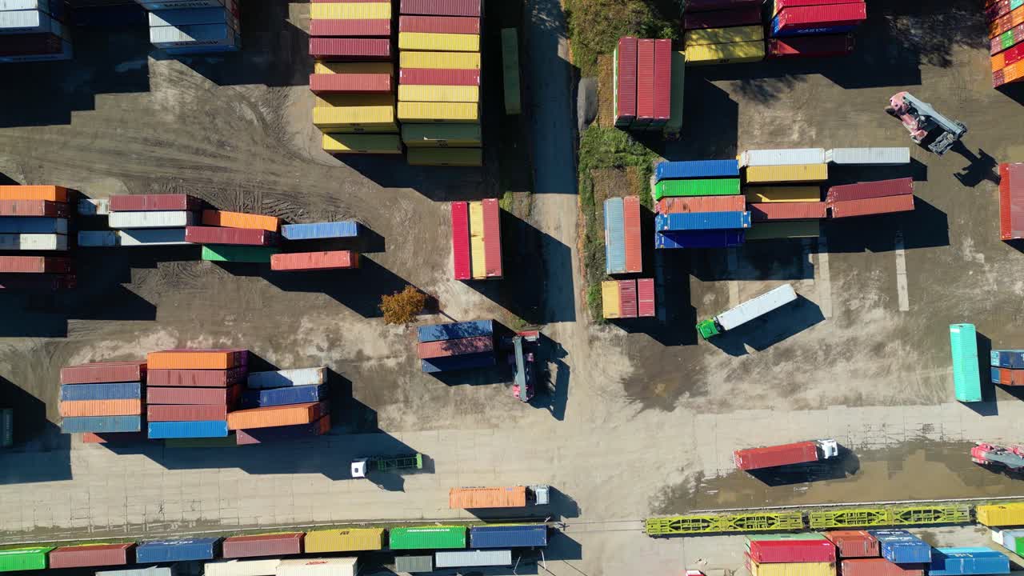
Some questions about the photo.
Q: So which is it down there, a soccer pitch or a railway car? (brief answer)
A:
railway car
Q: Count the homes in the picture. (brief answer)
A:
none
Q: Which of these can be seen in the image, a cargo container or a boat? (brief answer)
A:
cargo container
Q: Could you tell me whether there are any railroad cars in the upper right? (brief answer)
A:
No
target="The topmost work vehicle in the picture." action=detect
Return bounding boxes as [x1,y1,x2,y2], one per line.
[881,94,973,156]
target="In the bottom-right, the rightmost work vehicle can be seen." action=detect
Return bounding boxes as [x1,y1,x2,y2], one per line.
[964,440,1024,482]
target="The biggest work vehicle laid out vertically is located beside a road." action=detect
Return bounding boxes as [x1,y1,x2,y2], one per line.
[495,321,536,404]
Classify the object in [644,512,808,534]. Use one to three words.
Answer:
rail car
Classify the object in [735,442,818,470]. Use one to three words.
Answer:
shipping container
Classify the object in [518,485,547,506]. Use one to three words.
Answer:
truck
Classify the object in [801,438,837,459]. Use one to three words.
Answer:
truck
